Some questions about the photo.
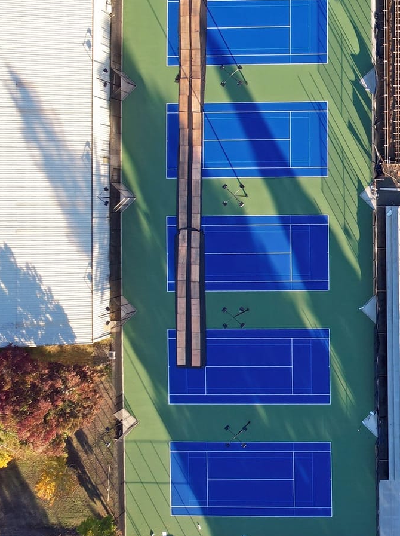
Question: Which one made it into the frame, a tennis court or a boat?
tennis court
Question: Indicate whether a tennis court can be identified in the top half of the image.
Yes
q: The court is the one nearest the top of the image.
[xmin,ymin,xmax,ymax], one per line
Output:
[167,0,328,65]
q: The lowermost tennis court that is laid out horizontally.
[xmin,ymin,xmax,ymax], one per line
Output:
[170,441,332,517]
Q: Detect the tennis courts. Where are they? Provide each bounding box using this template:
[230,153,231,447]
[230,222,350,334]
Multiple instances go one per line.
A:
[170,441,332,517]
[168,328,331,405]
[166,100,328,179]
[167,215,329,292]
[167,0,328,65]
